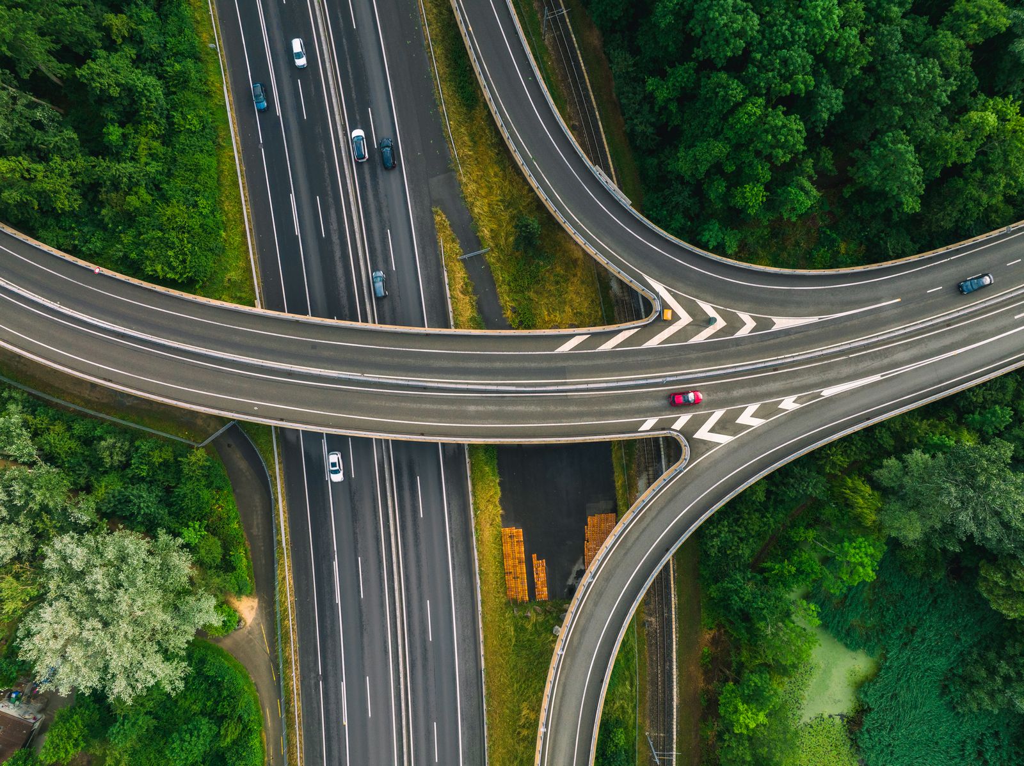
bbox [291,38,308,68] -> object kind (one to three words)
car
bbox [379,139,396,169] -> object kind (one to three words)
car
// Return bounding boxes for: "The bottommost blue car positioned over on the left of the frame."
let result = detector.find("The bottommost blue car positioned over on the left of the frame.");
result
[372,271,387,297]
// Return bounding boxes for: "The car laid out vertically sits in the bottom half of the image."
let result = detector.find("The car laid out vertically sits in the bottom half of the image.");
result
[329,452,344,482]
